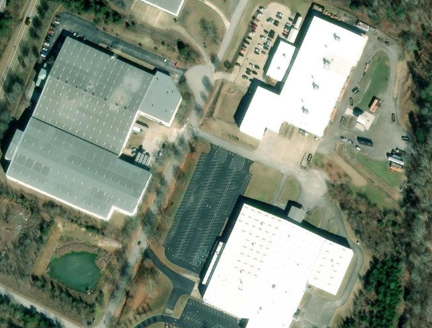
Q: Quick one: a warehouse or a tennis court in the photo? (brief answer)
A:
warehouse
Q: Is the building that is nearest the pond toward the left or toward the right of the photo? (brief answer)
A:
left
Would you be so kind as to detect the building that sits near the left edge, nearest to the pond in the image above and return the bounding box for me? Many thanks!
[6,118,152,221]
